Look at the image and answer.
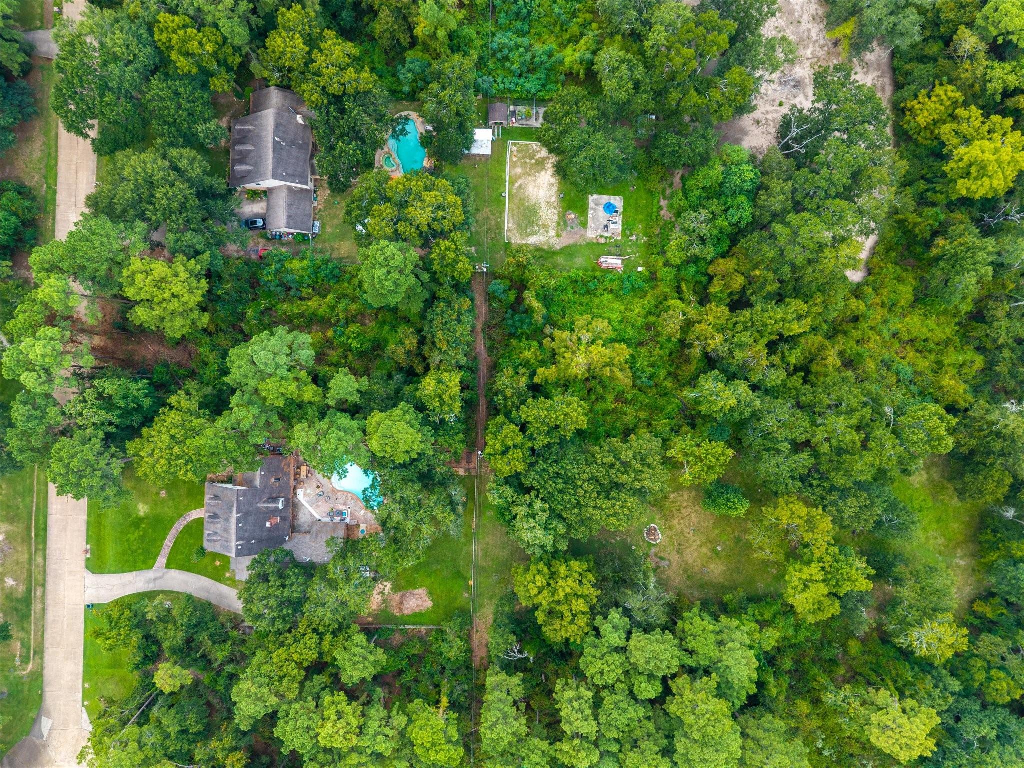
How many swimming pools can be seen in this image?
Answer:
2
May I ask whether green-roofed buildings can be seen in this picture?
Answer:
No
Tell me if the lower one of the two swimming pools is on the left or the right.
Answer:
left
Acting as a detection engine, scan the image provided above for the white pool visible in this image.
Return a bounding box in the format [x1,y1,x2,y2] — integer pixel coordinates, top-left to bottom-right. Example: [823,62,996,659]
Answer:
[329,462,386,513]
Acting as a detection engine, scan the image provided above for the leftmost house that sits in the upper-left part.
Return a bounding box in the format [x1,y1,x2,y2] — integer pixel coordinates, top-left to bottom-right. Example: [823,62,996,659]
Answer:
[230,87,323,234]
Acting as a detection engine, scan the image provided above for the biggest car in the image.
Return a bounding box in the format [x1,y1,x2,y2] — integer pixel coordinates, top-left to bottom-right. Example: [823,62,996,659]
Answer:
[241,217,267,230]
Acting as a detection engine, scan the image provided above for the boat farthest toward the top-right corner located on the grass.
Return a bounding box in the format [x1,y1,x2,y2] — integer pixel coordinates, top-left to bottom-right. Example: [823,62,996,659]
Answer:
[593,256,622,269]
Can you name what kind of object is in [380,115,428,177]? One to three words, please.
swimming pool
